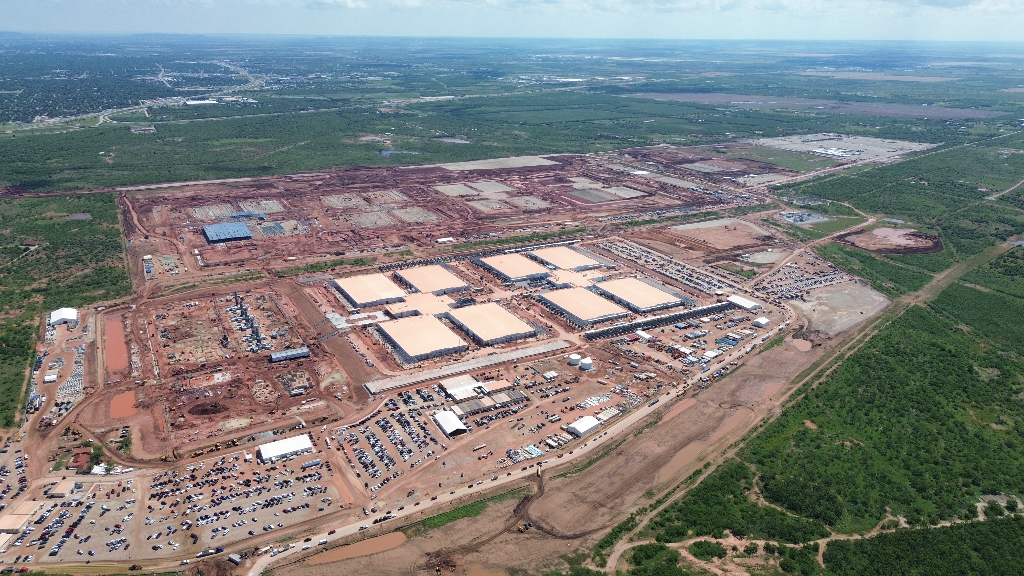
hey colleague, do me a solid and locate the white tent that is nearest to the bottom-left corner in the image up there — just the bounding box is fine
[50,306,80,326]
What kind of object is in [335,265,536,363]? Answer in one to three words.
building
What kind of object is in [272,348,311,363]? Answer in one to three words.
shed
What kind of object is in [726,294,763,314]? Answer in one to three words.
tent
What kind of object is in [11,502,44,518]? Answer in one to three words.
building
